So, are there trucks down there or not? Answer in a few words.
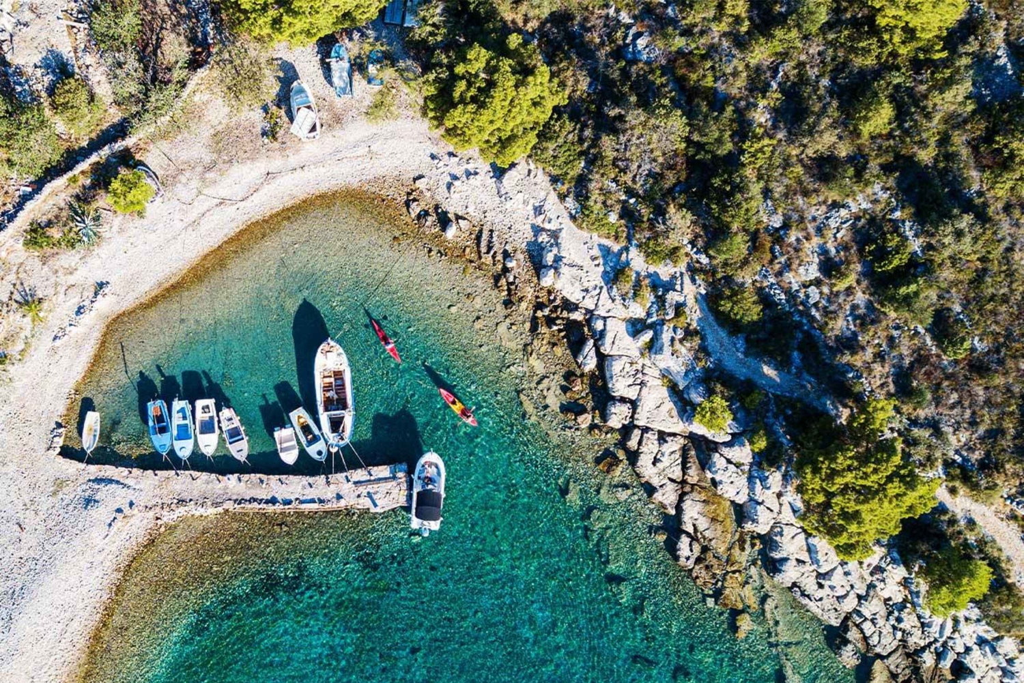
No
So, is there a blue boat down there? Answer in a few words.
Yes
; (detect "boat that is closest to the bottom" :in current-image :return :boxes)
[408,451,446,539]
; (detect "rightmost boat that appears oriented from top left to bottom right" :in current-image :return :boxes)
[439,388,477,427]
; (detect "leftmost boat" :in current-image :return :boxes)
[83,411,104,463]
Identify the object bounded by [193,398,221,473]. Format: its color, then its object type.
white boat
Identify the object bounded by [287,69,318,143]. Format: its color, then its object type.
white boat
